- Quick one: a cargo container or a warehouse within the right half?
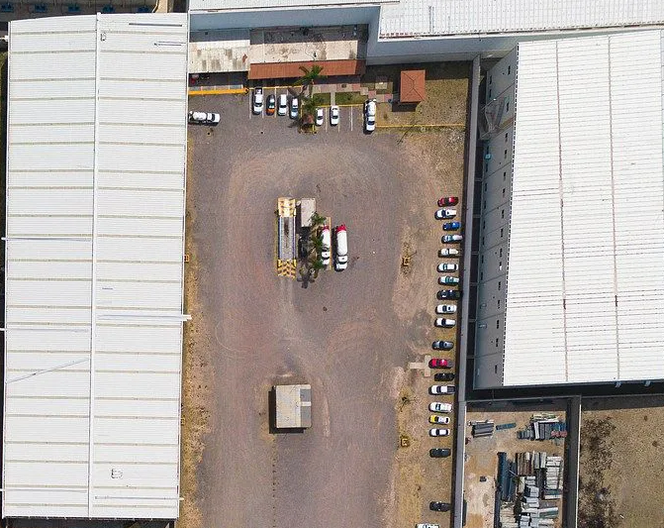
warehouse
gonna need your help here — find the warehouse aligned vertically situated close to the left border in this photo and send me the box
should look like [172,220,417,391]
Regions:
[0,13,192,521]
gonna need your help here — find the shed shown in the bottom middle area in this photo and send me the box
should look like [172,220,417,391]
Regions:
[272,384,311,428]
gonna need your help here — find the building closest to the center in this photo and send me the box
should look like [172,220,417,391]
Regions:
[297,200,315,230]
